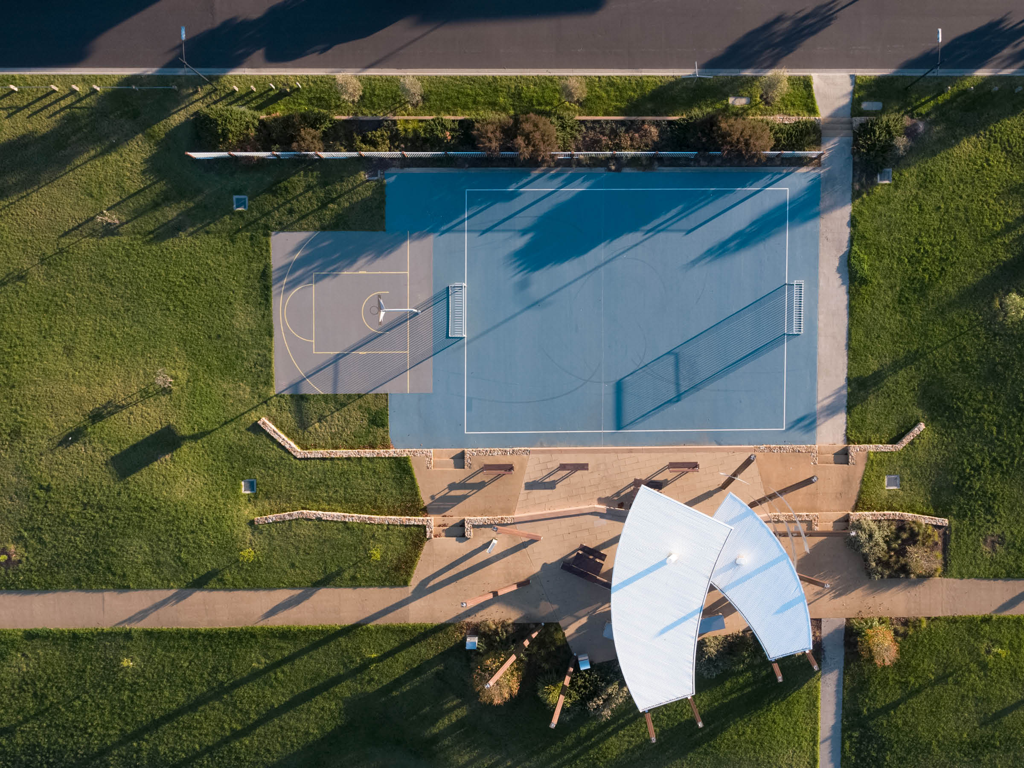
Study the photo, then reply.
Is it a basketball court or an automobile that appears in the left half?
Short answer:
basketball court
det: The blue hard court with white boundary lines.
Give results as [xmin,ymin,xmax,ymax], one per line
[385,172,820,448]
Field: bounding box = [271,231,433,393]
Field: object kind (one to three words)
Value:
basketball court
